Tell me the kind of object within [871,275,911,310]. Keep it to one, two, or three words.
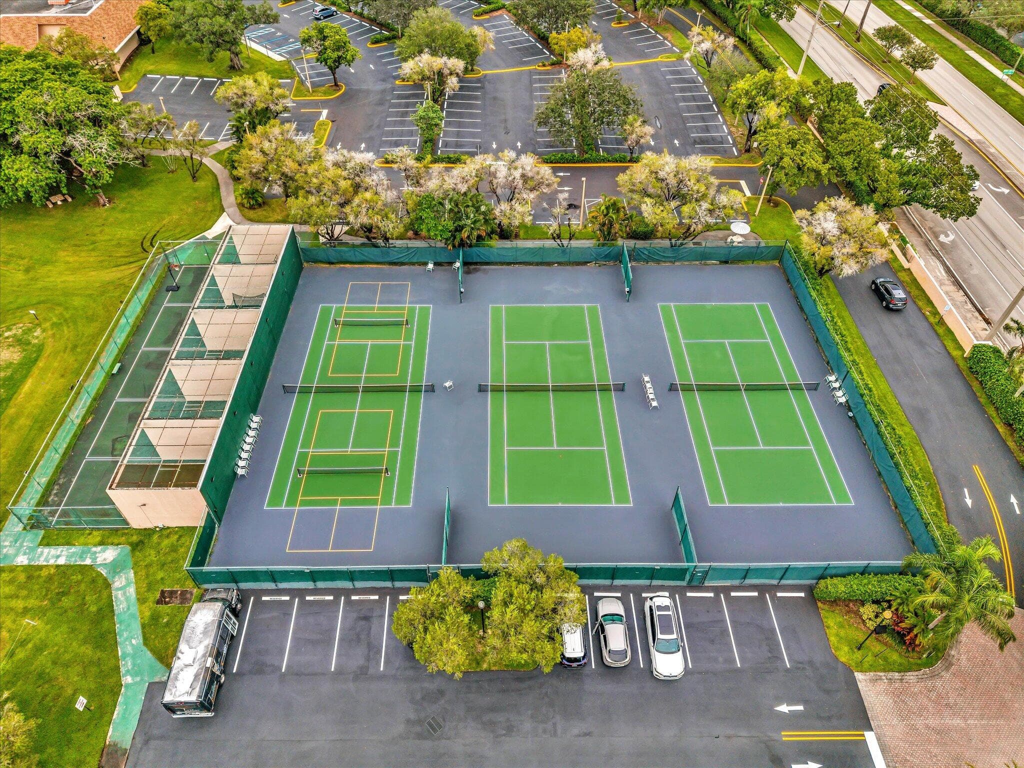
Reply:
car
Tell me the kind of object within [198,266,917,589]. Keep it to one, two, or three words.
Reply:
tennis court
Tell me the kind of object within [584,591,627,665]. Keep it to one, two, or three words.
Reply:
car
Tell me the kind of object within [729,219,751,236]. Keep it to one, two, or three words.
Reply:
umbrella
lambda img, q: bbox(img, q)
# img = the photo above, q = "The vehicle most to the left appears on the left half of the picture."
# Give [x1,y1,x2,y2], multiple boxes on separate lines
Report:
[162,589,244,719]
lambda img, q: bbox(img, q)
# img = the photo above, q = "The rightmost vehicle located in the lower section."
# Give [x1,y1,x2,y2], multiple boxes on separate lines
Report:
[642,597,688,680]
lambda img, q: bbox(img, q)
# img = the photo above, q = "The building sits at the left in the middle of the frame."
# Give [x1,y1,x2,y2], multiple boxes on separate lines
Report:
[102,227,304,527]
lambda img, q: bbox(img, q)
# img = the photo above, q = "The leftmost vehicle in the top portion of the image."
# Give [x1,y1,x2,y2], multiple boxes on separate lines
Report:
[311,4,334,19]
